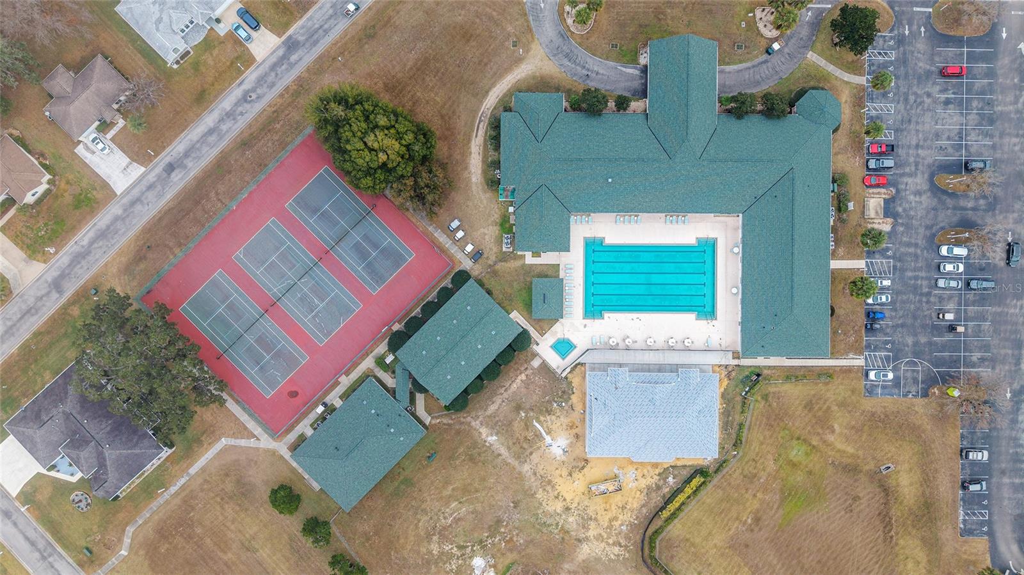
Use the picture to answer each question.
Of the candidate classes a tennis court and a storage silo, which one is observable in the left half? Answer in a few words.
tennis court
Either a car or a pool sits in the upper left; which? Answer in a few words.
car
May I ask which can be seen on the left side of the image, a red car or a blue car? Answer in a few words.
blue car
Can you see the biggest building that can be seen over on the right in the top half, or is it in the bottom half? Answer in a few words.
top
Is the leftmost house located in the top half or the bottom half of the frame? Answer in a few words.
top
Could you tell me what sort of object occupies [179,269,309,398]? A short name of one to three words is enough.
tennis court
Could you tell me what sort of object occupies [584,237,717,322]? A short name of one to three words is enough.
swimming pool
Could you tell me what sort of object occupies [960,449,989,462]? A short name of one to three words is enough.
vehicle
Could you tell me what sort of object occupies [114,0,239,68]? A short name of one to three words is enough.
house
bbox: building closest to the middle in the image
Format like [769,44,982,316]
[532,278,563,319]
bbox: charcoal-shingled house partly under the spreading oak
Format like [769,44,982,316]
[3,362,167,502]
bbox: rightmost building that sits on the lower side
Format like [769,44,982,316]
[586,368,719,461]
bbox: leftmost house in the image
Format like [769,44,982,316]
[0,126,56,205]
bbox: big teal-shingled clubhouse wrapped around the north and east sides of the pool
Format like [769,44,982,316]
[500,34,842,358]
